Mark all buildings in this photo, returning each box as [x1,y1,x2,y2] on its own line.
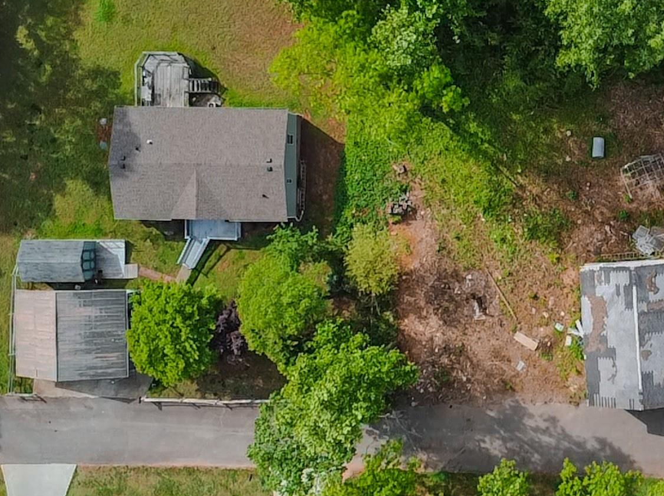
[14,289,147,385]
[579,261,664,416]
[12,241,104,282]
[106,106,301,222]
